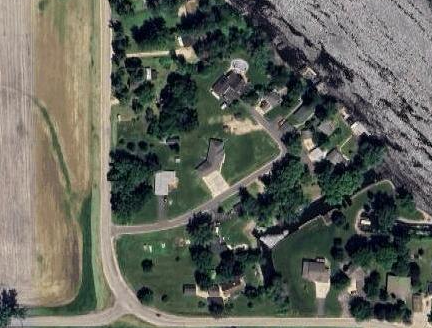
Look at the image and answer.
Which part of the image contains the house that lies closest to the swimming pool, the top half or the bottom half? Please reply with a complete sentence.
Seen from above, the house that lies closest to the swimming pool lies in the top half of the view.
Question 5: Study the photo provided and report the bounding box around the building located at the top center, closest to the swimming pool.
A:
[212,65,241,102]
